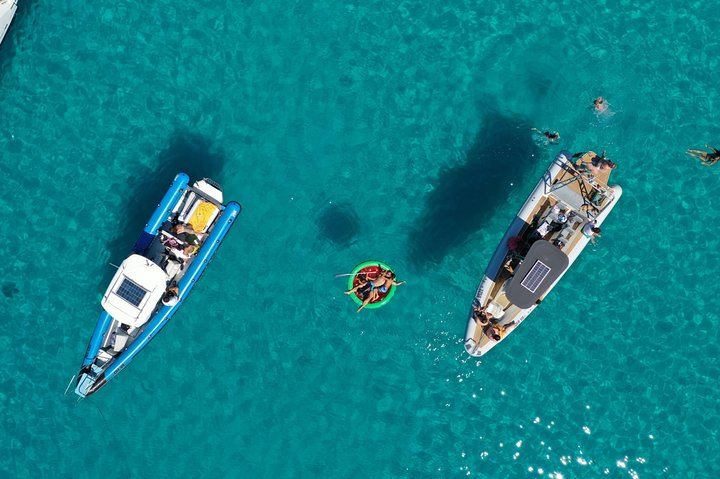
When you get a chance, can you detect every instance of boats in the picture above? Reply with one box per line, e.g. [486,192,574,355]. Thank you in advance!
[0,0,22,43]
[461,152,617,357]
[65,174,241,402]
